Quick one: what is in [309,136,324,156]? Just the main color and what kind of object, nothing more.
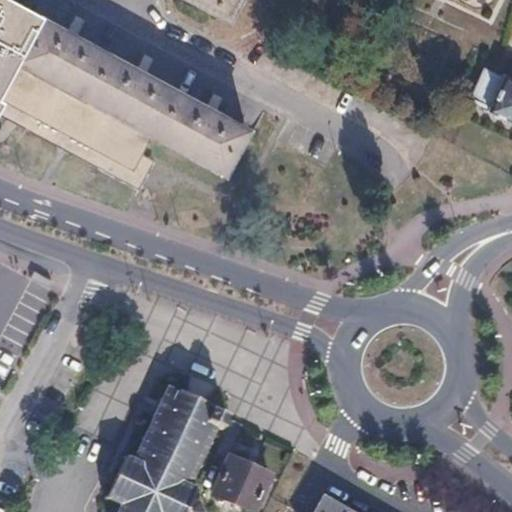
gray car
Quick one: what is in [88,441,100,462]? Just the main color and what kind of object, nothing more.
white vehicle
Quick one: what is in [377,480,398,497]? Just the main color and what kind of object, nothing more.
white car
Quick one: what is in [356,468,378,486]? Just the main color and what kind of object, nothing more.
white car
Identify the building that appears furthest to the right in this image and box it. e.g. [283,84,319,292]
[468,67,512,122]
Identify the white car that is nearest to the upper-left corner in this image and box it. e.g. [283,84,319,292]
[146,6,166,28]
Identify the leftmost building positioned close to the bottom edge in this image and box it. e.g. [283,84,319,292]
[106,381,232,512]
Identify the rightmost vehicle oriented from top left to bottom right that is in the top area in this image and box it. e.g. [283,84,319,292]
[214,46,235,64]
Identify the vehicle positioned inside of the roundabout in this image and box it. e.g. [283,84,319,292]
[350,330,369,350]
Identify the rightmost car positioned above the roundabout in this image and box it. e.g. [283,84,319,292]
[423,258,442,278]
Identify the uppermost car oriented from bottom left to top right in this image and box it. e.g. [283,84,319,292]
[248,41,265,62]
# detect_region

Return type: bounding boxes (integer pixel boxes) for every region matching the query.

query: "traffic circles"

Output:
[329,292,478,440]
